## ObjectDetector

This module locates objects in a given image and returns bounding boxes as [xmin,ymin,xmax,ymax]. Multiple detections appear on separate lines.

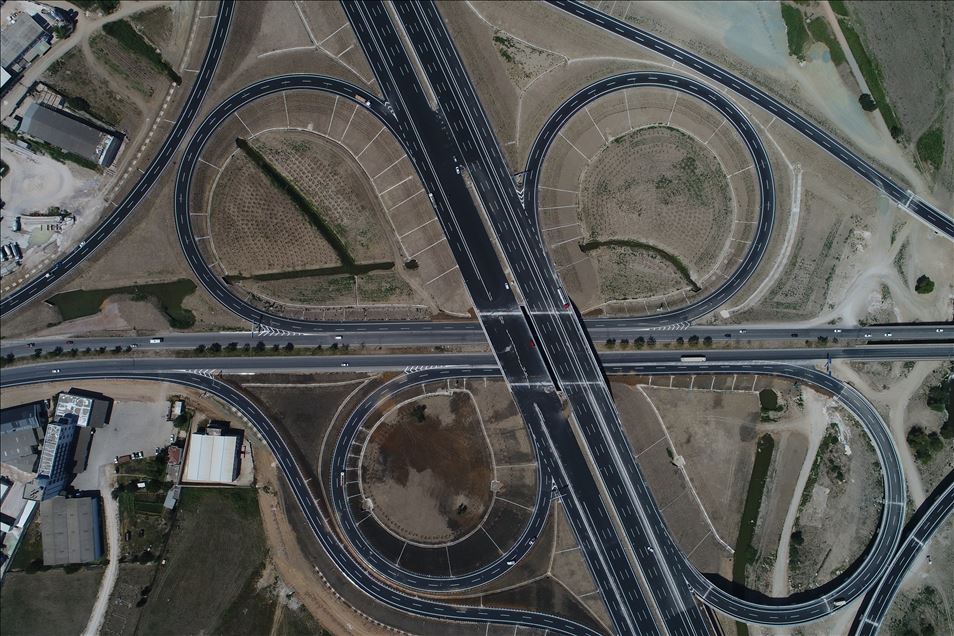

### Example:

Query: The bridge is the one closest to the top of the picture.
[900,192,954,242]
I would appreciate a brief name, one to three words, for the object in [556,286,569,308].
vehicle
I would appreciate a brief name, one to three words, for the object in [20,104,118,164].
hangar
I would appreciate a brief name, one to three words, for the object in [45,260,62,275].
vehicle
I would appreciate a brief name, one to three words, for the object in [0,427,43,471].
building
